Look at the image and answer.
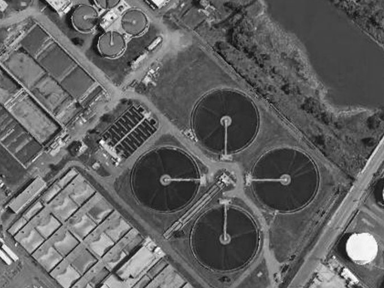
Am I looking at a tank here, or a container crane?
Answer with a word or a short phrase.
tank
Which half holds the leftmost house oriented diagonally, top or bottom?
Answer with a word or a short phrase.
bottom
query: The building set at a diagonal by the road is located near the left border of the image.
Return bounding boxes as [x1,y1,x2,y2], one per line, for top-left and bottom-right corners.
[8,178,45,215]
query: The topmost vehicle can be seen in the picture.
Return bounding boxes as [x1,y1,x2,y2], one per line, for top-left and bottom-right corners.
[146,35,163,49]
